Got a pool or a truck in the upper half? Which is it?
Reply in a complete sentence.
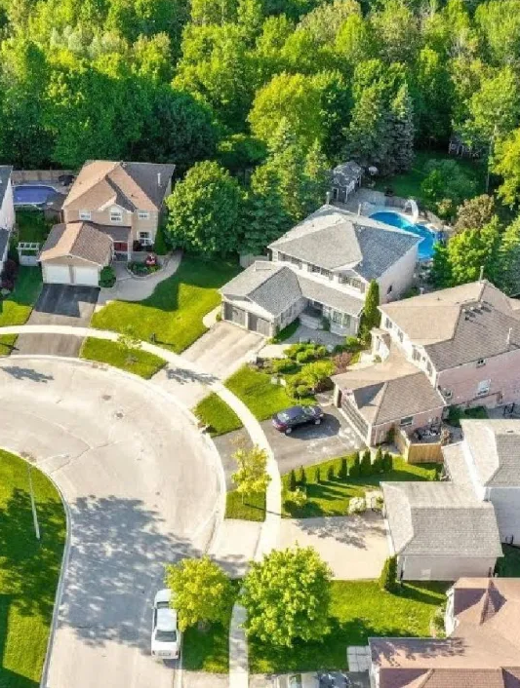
Visible in the upper half is a pool.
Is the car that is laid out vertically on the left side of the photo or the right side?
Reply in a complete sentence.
You can find the car that is laid out vertically on the left side of the picture.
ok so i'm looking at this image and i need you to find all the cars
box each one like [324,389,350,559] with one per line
[279,672,357,688]
[150,591,181,655]
[273,398,330,430]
